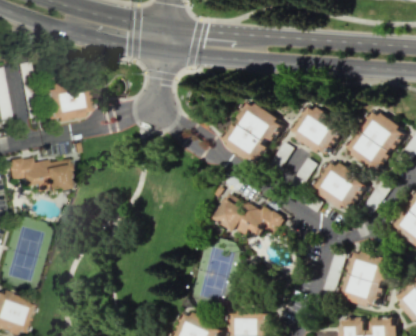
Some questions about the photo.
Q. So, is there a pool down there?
Yes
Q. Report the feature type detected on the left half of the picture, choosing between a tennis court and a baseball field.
tennis court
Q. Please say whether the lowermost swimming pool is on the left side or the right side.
right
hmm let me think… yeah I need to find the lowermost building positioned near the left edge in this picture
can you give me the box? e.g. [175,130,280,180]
[0,290,41,334]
